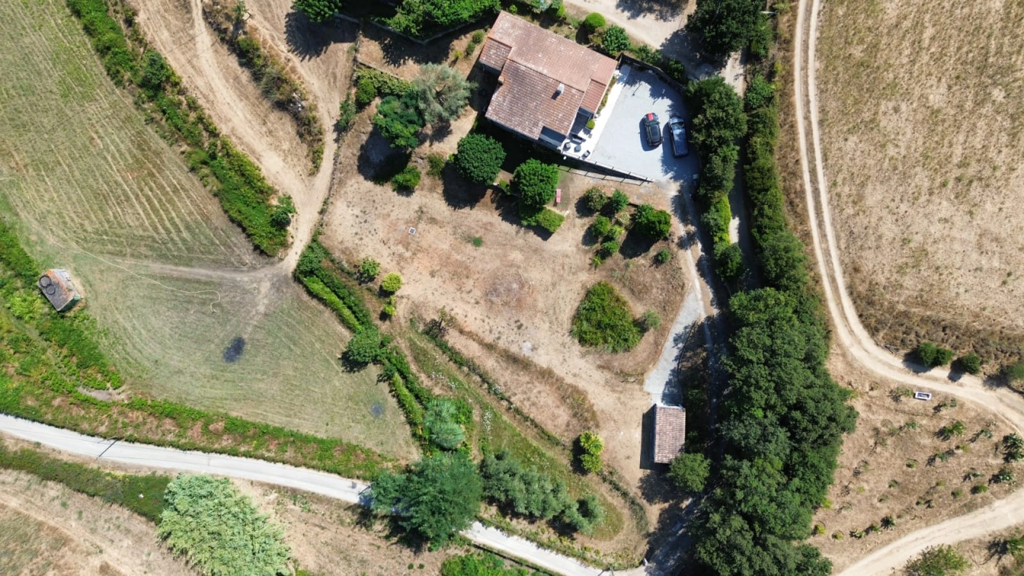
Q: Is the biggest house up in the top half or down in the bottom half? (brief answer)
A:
top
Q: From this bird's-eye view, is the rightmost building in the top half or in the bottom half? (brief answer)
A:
bottom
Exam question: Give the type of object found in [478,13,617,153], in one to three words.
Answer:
house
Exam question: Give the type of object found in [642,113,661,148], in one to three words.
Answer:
car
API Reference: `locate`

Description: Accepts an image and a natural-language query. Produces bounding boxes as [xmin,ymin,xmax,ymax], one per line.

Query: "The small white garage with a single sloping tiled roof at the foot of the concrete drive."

[651,403,686,465]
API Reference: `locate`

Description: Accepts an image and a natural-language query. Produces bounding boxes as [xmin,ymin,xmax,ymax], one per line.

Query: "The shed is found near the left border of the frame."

[37,269,85,311]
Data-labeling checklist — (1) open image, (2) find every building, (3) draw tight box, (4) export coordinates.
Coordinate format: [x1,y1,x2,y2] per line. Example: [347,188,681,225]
[37,269,85,311]
[651,403,686,465]
[478,13,617,153]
